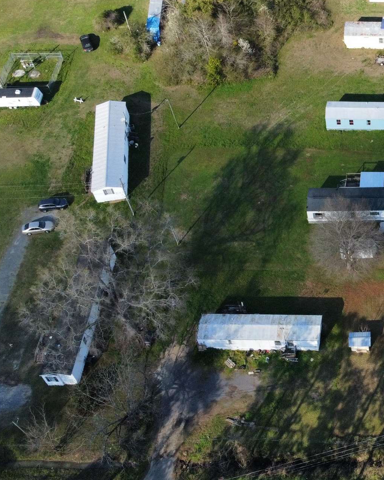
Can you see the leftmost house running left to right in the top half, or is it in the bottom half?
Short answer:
bottom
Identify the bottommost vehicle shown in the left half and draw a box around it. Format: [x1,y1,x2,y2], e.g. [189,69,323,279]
[21,220,55,237]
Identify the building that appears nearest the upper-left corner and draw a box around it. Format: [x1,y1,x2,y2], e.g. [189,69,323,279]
[85,99,139,204]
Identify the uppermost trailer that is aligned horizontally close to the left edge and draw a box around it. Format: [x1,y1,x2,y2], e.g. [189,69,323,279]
[0,85,47,107]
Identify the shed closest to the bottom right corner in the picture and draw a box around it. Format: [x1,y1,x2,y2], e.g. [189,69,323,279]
[349,330,371,356]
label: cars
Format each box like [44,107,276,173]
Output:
[37,197,70,214]
[80,35,94,54]
[21,220,55,237]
